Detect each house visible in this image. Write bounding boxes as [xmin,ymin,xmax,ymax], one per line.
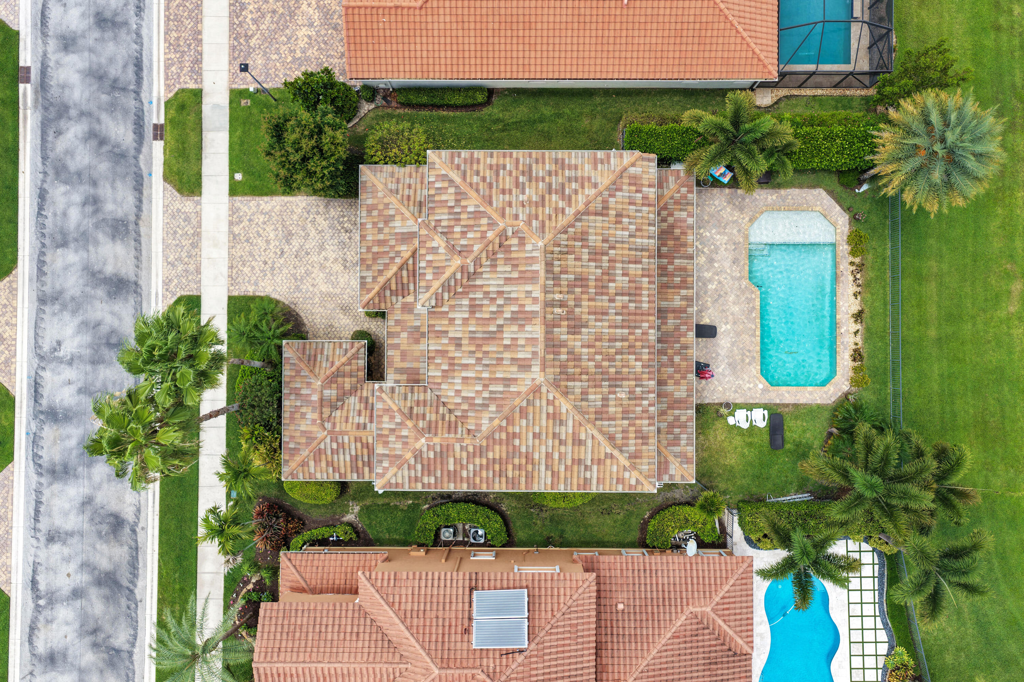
[341,0,781,88]
[250,542,756,682]
[281,148,697,494]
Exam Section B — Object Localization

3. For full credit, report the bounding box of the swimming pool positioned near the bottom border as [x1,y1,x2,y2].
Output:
[753,565,846,682]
